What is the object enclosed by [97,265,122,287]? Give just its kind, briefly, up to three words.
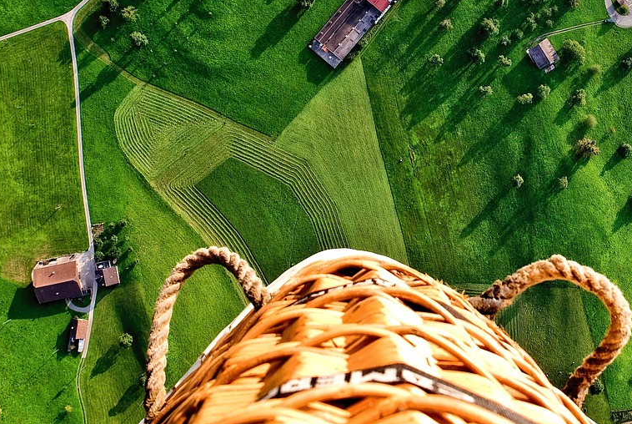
building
